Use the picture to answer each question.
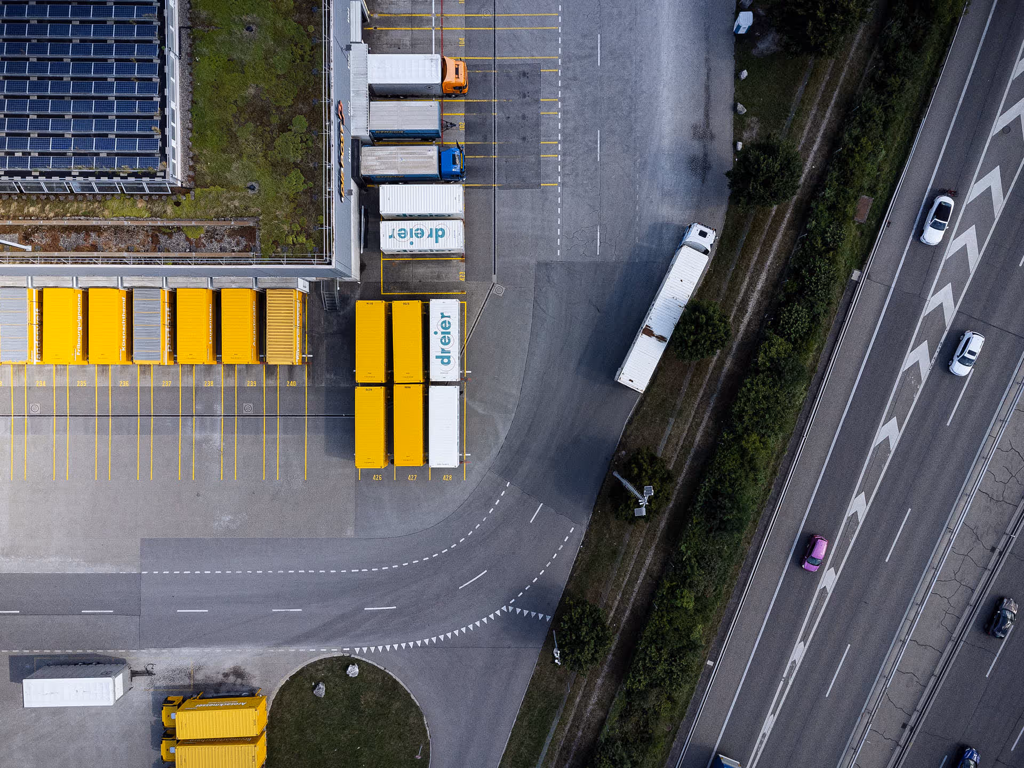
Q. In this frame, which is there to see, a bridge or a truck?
truck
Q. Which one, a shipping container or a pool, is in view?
shipping container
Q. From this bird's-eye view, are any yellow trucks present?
Yes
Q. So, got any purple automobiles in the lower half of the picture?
Yes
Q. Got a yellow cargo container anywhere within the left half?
Yes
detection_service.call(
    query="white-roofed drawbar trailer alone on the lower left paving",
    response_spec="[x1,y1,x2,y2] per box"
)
[23,660,157,707]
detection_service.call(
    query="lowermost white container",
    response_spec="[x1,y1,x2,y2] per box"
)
[429,385,460,467]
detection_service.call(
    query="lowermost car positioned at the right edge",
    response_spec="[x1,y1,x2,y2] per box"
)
[952,745,981,768]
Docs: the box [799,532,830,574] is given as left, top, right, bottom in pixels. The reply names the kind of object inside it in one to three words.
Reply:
car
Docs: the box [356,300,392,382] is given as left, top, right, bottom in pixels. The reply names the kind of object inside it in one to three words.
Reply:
shipping container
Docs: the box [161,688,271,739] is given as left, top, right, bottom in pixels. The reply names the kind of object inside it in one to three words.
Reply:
truck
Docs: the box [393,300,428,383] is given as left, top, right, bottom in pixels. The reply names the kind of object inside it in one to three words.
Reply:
shipping container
